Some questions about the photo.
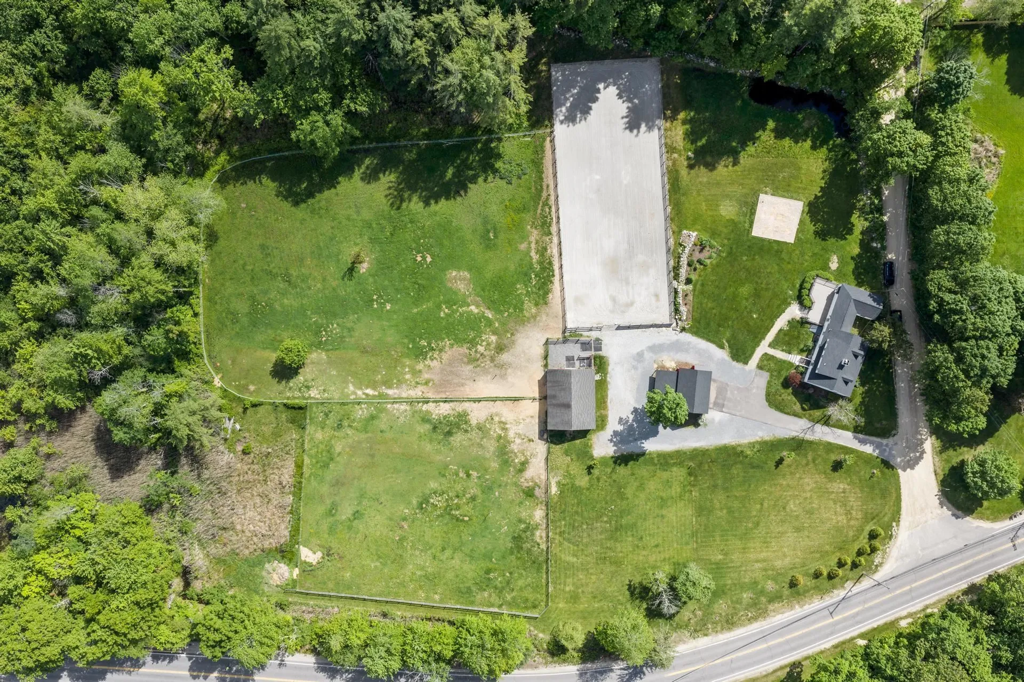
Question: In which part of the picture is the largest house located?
right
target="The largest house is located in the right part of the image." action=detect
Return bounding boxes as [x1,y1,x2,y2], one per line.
[799,281,883,397]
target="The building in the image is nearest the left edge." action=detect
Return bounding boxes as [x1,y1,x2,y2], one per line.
[547,370,595,431]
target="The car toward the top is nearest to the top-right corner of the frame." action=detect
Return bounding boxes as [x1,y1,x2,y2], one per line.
[881,261,894,284]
